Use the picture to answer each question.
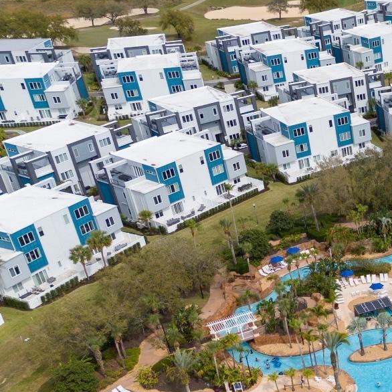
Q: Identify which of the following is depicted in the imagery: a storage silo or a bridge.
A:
bridge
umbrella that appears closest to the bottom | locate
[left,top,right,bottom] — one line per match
[368,283,388,300]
